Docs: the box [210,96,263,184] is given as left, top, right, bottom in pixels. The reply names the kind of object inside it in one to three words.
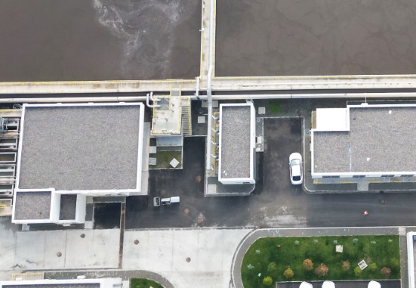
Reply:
house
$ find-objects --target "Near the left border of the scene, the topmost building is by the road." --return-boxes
[11,102,151,230]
